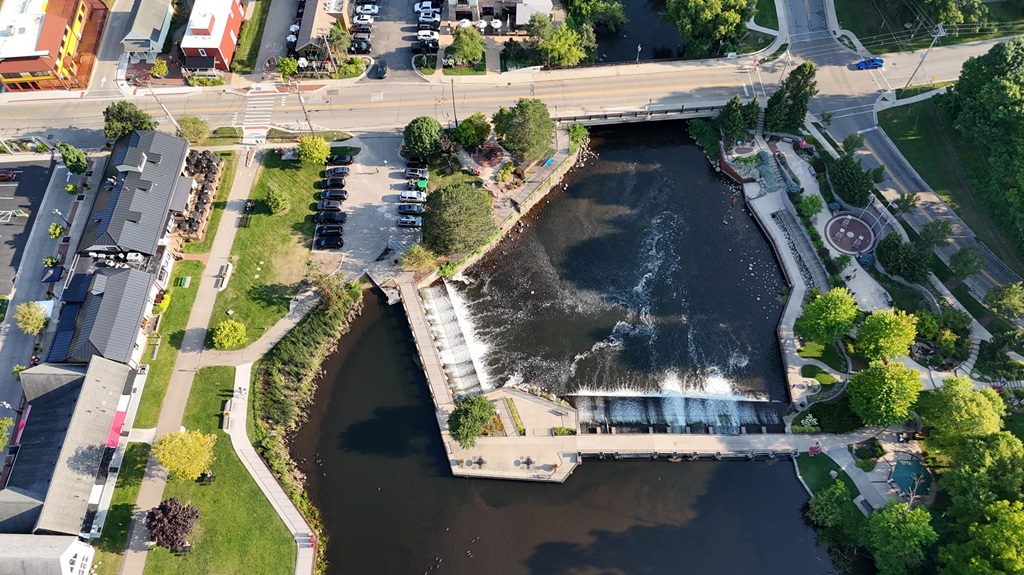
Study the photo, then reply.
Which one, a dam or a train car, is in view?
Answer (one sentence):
Of the two, only a dam appears.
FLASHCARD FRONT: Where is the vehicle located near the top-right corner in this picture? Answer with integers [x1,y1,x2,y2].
[858,56,886,69]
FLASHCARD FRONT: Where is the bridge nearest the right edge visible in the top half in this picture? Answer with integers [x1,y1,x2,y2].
[546,51,764,125]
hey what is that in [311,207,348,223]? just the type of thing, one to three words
vehicle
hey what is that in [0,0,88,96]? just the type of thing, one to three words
building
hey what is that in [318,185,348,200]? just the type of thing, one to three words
car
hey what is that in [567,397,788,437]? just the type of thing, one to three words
dam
